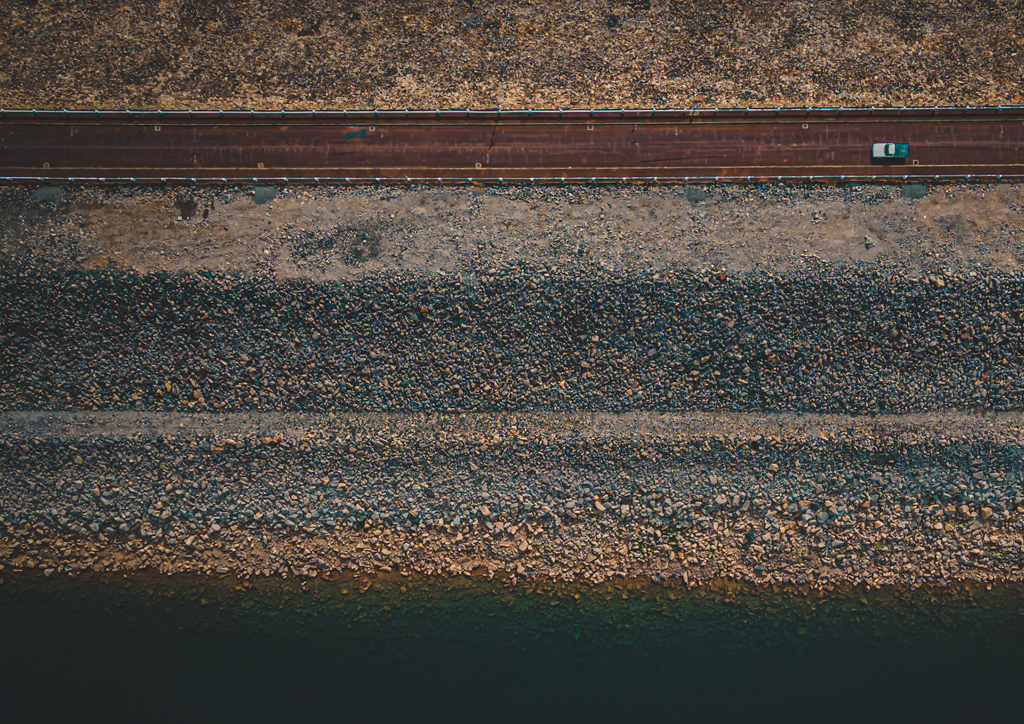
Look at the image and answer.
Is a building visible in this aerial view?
No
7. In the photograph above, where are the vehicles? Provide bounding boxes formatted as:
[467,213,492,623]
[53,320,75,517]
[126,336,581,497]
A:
[873,142,909,159]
